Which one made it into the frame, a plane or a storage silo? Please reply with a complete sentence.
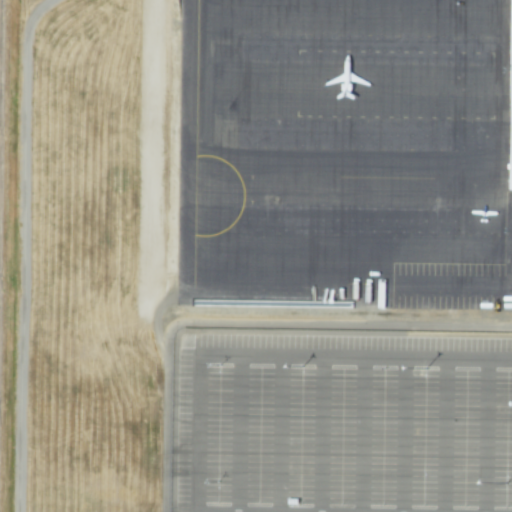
Visible in the photo is a plane.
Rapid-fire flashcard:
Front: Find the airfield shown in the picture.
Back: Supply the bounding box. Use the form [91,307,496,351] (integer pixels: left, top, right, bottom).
[179,0,512,310]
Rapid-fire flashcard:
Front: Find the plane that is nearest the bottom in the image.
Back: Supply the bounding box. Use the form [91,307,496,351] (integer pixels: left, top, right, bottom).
[472,205,499,224]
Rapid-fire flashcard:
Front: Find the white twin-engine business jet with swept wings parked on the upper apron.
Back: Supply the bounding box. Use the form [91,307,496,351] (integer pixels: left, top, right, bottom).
[324,56,371,101]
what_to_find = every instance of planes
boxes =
[472,205,499,224]
[324,56,371,101]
